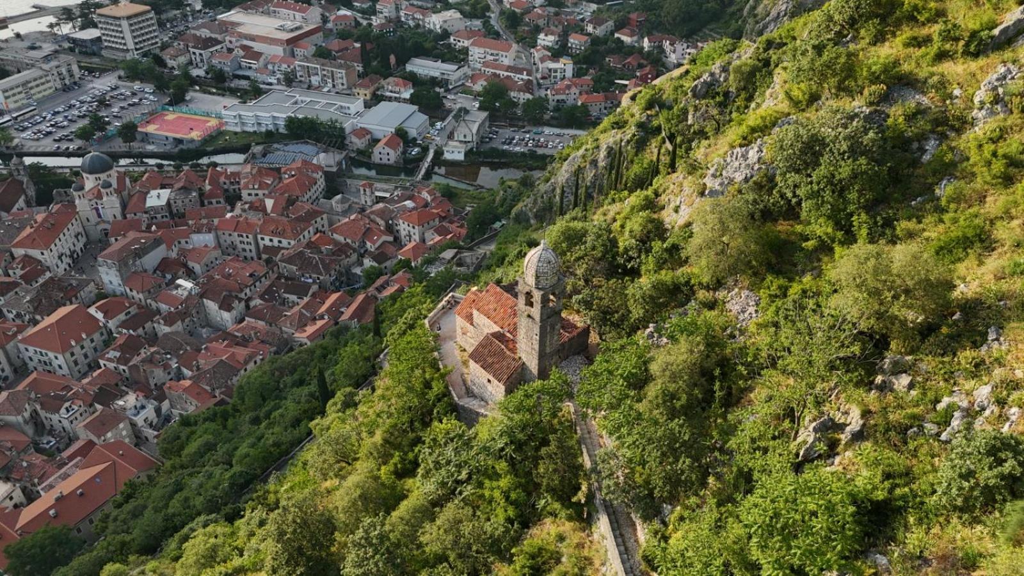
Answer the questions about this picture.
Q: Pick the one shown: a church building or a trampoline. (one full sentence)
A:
There is a church building in the scene.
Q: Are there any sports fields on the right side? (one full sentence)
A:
No, I see no sports field on the right side.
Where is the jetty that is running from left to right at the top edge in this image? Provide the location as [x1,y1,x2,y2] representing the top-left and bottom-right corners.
[0,2,90,28]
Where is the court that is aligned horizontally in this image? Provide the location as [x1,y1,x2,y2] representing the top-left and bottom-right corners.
[135,107,231,148]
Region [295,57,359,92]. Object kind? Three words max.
building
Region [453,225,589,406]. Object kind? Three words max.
church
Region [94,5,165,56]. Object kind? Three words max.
building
